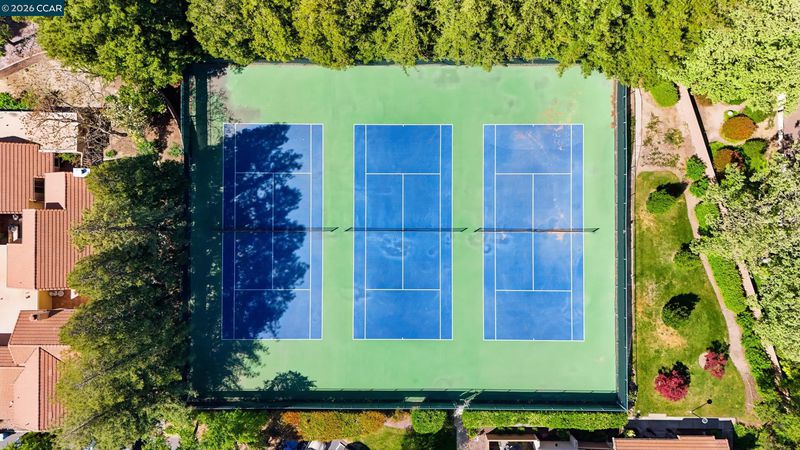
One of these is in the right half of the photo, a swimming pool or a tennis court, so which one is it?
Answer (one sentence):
Looking in the right half of the photo, you will find a tennis court.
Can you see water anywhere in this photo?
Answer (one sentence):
No, the scene doesn't show any water.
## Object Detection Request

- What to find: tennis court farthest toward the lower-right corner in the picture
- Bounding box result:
[484,124,584,341]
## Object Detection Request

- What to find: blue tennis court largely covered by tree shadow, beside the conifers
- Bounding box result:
[223,123,323,340]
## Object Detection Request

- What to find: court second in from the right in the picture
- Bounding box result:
[354,124,452,340]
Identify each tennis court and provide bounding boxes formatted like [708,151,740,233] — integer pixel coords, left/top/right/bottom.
[354,124,452,340]
[484,124,584,341]
[223,123,323,340]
